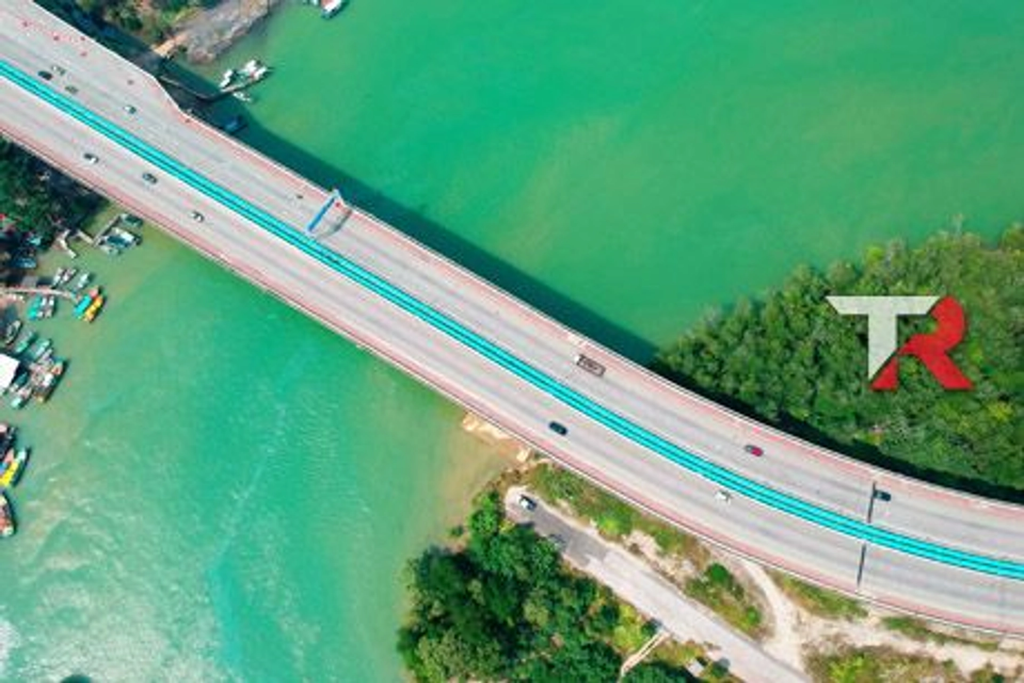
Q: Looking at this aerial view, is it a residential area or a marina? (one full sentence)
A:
What you see here is a marina.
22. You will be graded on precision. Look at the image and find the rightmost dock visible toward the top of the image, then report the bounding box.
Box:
[156,72,253,103]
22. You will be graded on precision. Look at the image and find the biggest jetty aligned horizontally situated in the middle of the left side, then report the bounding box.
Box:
[11,288,78,304]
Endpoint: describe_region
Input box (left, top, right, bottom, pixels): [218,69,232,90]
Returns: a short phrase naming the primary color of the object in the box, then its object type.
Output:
white boat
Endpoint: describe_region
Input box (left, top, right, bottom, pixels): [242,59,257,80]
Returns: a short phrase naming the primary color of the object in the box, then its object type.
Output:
white boat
